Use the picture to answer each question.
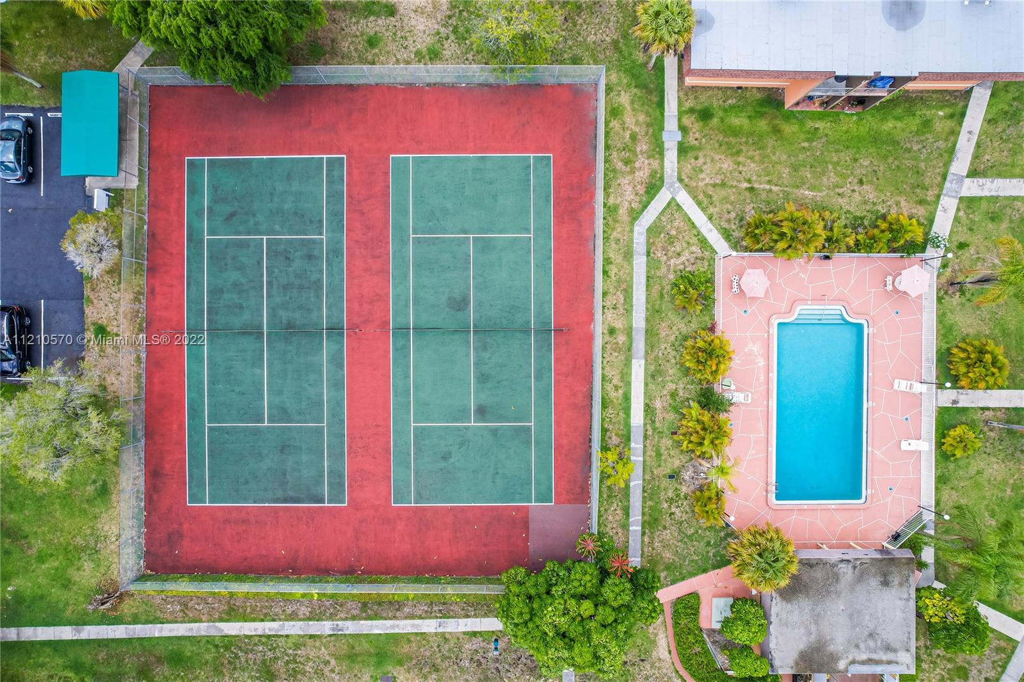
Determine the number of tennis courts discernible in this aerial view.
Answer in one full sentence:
In total, 2 tennis courts can be seen.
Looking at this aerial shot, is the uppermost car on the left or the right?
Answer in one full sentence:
It is on the left.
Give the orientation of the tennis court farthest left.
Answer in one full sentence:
What the image shows is the tennis court farthest left lying vertically.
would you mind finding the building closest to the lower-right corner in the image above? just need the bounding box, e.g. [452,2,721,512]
[760,541,915,674]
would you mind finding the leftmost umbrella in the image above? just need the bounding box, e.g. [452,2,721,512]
[737,269,769,297]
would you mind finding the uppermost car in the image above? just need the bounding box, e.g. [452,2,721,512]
[0,115,34,184]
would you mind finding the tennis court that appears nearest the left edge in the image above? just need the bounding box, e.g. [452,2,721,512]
[185,155,347,506]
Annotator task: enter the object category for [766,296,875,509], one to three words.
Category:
swimming pool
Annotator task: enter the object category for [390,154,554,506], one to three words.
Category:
tennis court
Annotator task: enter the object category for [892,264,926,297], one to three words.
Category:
umbrella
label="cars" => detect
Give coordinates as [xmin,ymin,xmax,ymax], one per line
[0,304,32,376]
[0,115,34,184]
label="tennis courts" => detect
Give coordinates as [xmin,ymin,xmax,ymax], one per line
[185,155,347,506]
[390,154,554,506]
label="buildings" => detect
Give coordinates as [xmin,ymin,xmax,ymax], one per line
[760,541,915,674]
[683,0,1024,109]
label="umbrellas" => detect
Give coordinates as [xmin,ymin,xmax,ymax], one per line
[737,269,769,297]
[892,264,926,297]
